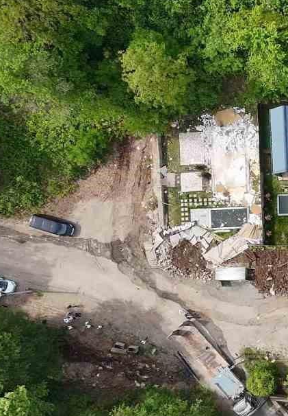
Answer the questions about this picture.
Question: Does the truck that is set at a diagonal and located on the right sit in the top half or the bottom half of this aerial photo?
bottom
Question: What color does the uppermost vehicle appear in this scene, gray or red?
gray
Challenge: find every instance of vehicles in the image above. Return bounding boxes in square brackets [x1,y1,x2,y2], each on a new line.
[27,212,76,237]
[0,277,17,294]
[167,322,260,416]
